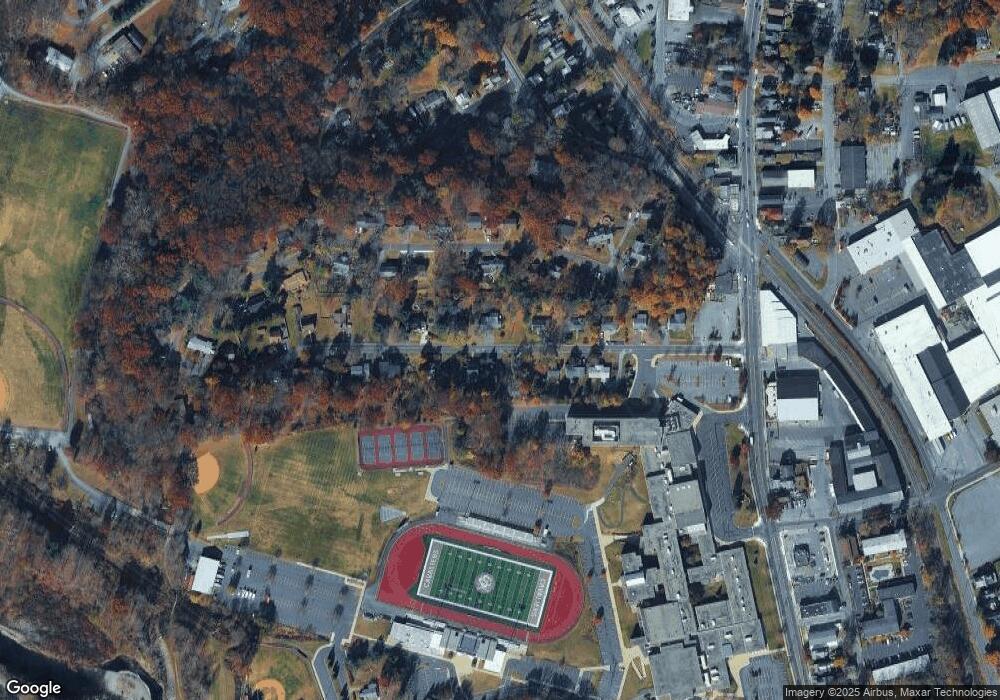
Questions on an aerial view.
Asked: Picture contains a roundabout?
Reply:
No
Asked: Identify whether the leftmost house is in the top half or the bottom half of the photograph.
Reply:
top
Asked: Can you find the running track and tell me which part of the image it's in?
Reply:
bottom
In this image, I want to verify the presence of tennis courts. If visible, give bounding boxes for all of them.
[409,432,425,460]
[378,434,393,463]
[361,436,376,464]
[426,431,440,459]
[394,433,408,461]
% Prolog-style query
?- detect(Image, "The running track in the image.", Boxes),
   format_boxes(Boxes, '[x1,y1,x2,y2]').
[371,518,584,642]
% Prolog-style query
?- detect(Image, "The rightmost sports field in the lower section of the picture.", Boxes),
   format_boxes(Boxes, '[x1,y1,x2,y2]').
[406,534,558,632]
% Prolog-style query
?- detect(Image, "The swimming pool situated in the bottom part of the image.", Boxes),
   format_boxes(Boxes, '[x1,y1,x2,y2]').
[870,563,894,582]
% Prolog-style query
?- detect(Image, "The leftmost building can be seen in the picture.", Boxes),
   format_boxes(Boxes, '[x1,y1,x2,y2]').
[46,48,74,70]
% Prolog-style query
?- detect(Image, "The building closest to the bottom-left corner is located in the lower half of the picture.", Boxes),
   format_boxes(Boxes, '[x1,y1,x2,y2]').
[192,556,221,594]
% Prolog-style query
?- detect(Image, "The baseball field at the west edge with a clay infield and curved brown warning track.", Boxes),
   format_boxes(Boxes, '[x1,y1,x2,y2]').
[0,299,69,432]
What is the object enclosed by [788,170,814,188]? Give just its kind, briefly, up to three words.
building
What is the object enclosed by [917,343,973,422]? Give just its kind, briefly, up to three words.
shed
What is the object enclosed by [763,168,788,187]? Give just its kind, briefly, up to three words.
house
